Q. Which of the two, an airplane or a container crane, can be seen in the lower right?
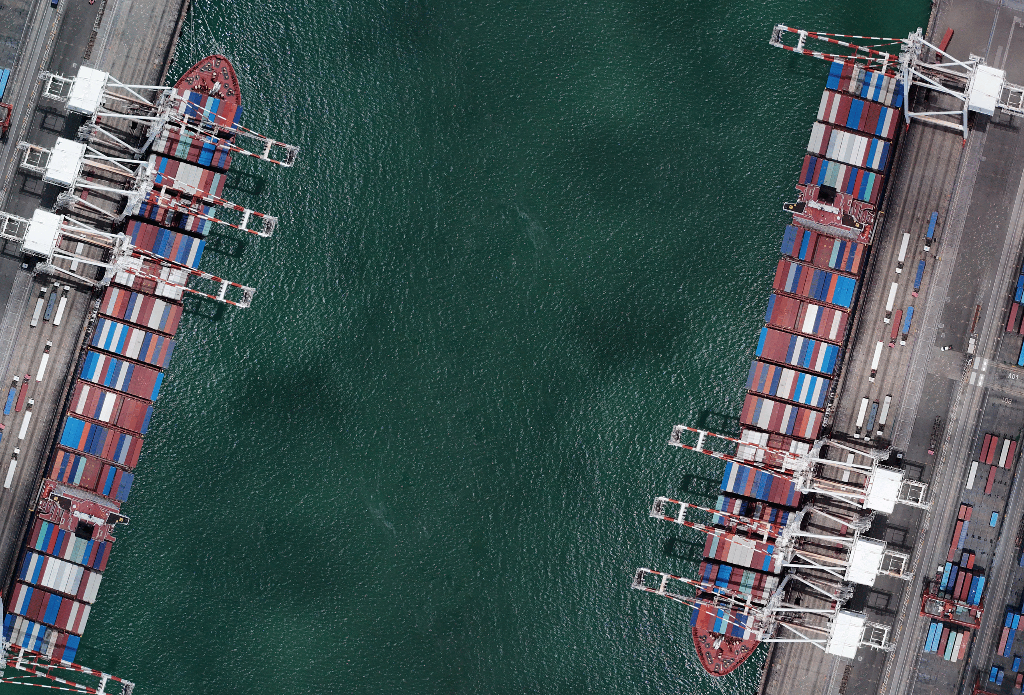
container crane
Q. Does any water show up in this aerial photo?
Yes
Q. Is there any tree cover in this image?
No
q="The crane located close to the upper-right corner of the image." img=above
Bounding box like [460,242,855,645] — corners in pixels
[765,21,1024,130]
